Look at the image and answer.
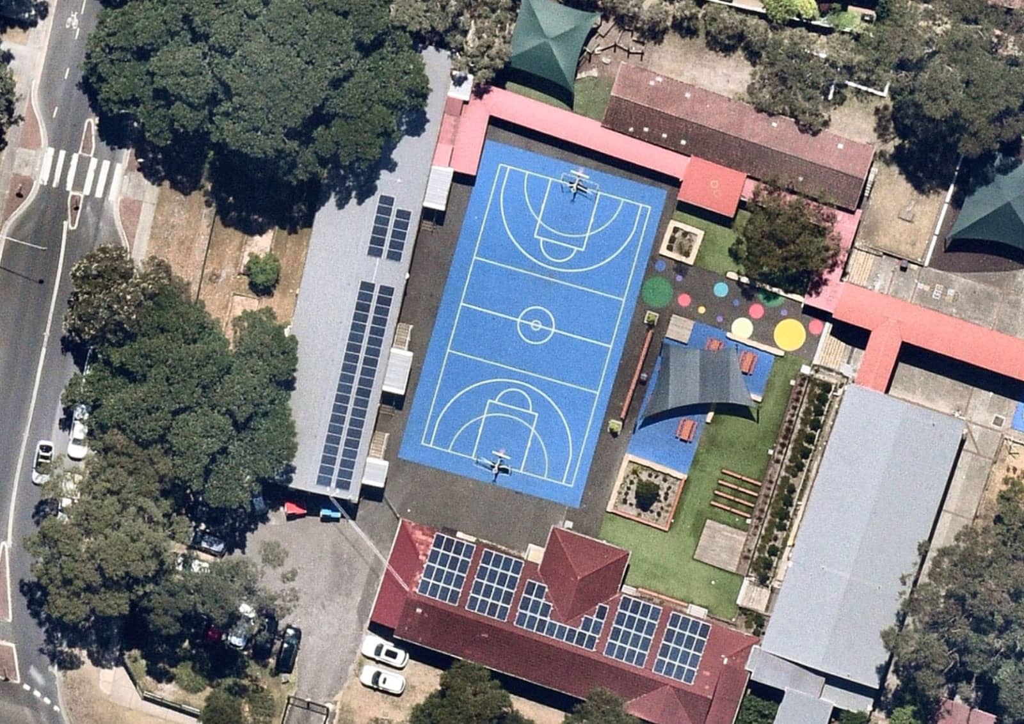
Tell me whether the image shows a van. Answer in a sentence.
Yes, this view includes a van.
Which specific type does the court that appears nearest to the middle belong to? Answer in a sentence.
The court that appears nearest to the middle is a basketball court.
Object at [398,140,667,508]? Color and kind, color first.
blue basketball court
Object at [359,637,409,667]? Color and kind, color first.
white car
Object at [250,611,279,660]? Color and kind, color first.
black car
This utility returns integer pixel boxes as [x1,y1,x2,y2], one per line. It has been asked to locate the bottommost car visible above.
[359,666,407,696]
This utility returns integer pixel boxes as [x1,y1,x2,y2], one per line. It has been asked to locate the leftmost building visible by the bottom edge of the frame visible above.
[369,519,760,724]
